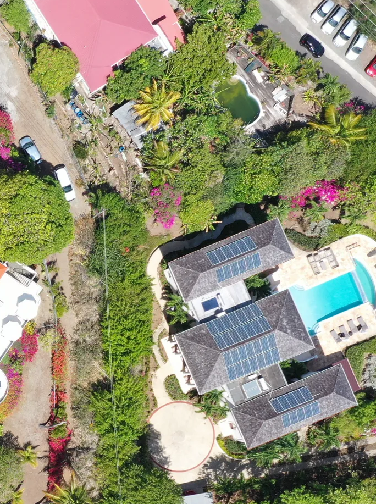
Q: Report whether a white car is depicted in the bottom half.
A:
No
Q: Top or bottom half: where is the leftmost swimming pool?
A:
top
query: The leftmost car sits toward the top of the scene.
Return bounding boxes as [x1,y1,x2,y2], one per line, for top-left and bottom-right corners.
[20,134,43,164]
